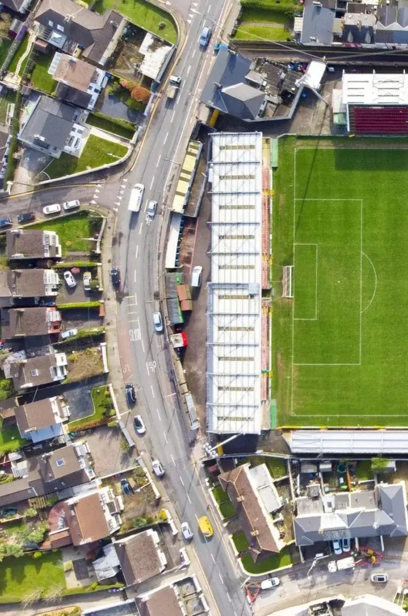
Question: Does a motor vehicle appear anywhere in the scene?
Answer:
Yes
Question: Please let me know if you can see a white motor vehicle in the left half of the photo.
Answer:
Yes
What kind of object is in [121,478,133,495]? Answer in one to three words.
vehicle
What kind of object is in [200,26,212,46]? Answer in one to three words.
vehicle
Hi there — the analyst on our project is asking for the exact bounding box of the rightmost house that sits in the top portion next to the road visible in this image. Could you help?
[373,0,408,53]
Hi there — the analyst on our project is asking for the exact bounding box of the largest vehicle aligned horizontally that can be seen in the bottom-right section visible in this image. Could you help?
[327,556,357,573]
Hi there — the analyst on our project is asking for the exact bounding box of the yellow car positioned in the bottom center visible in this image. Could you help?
[199,517,213,536]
